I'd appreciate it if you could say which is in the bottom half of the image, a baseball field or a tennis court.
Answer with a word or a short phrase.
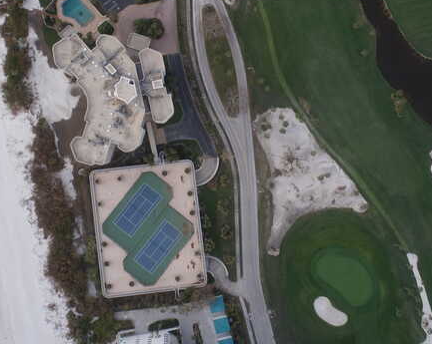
tennis court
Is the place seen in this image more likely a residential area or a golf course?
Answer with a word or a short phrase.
golf course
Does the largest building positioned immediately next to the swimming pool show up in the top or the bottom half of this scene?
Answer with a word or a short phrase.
top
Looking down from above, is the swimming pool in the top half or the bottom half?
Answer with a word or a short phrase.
top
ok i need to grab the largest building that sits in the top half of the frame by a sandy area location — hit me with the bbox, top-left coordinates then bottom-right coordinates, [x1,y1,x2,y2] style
[53,33,148,164]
